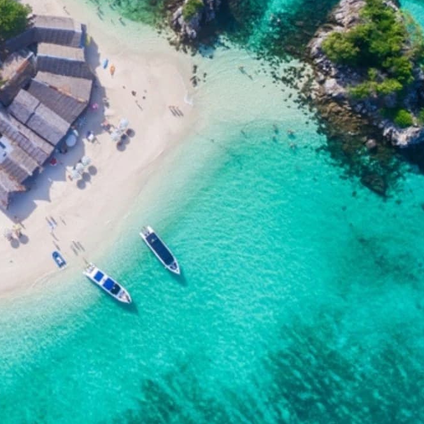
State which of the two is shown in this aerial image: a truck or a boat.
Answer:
boat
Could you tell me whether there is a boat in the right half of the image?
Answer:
No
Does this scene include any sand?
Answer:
Yes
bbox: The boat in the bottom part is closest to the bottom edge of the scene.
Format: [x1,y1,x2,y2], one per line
[80,262,131,305]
